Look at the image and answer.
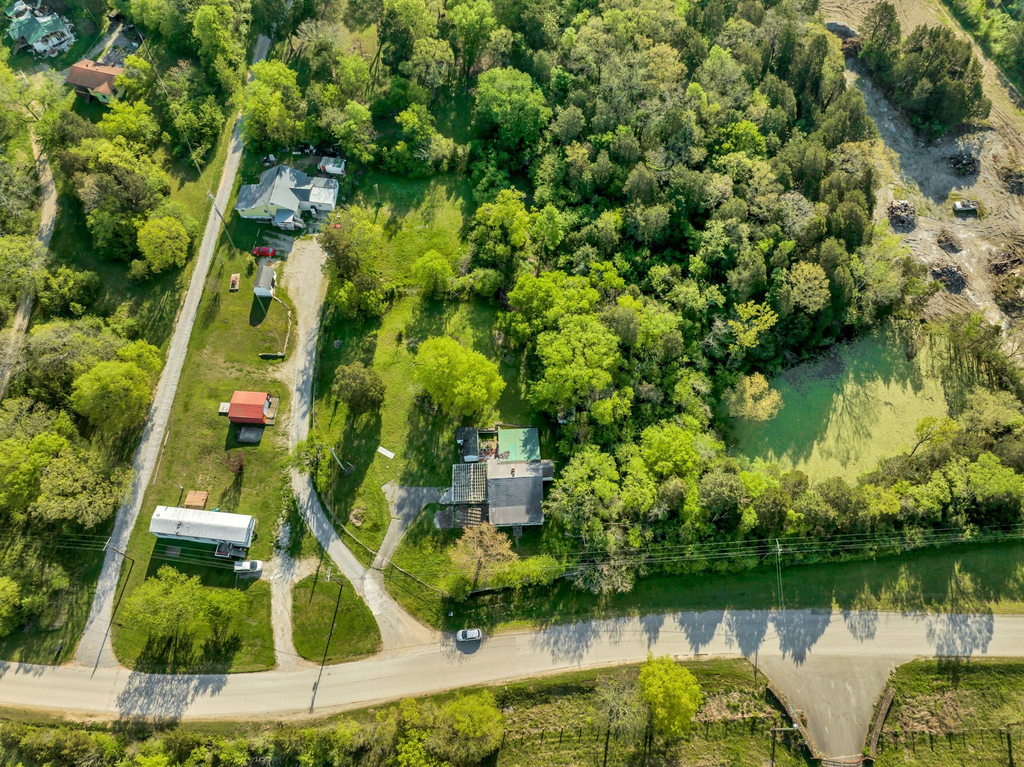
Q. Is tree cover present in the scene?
Yes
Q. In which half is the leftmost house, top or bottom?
top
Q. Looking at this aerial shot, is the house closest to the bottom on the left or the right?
left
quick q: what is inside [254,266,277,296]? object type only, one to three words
shed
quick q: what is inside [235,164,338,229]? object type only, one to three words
house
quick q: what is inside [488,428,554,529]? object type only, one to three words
house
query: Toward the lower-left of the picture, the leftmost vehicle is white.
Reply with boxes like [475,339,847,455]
[234,560,264,573]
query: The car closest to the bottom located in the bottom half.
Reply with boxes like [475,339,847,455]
[456,628,482,642]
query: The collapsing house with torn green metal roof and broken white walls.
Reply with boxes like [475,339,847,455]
[7,5,82,60]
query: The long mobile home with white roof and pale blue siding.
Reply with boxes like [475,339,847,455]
[148,505,258,559]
